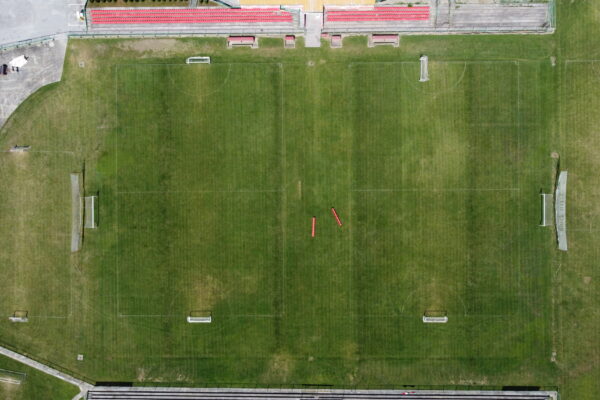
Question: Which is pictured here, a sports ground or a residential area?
sports ground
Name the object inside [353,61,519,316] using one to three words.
soccer field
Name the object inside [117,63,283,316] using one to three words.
soccer field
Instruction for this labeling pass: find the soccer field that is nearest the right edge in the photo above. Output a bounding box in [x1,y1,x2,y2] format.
[564,60,600,330]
